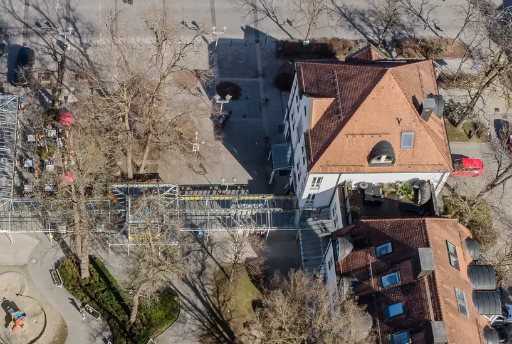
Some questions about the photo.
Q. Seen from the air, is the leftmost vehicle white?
No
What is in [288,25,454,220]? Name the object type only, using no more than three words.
house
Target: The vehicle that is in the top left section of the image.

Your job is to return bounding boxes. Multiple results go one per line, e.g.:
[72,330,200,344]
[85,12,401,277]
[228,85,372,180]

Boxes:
[14,49,34,94]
